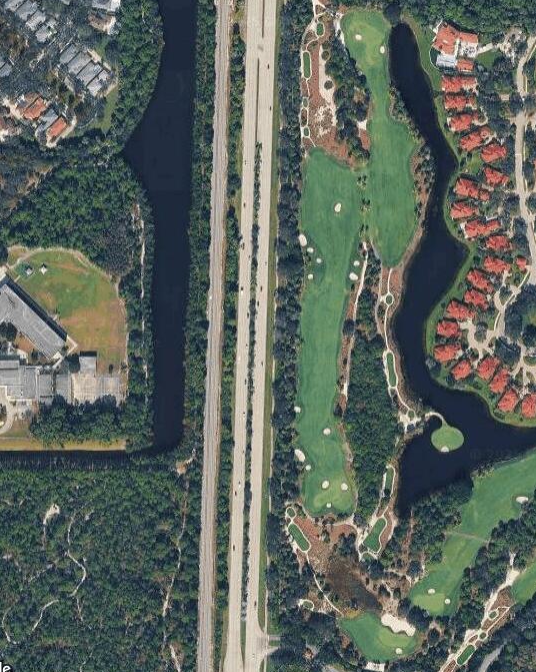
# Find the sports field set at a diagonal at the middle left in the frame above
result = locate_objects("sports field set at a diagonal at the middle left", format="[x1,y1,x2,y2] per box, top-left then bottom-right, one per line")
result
[7,247,128,378]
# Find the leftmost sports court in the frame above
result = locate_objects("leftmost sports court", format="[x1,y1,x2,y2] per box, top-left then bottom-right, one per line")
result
[72,377,97,399]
